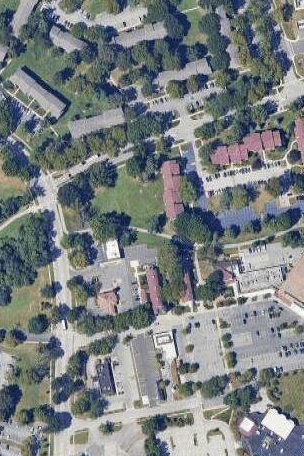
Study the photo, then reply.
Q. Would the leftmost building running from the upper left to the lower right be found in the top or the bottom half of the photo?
top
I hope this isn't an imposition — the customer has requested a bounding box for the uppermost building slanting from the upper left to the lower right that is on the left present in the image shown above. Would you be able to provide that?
[47,21,85,52]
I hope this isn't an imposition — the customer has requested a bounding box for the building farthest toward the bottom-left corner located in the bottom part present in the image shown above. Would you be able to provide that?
[97,359,115,396]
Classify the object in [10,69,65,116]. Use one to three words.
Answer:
building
